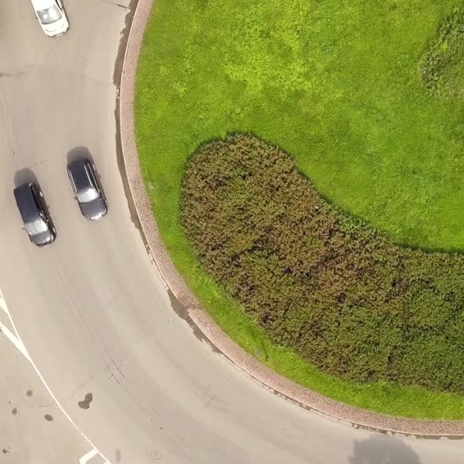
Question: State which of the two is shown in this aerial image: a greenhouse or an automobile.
automobile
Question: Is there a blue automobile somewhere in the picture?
No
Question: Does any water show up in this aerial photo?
No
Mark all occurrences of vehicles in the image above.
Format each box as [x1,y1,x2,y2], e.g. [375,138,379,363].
[13,182,57,248]
[70,160,109,222]
[29,0,69,39]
